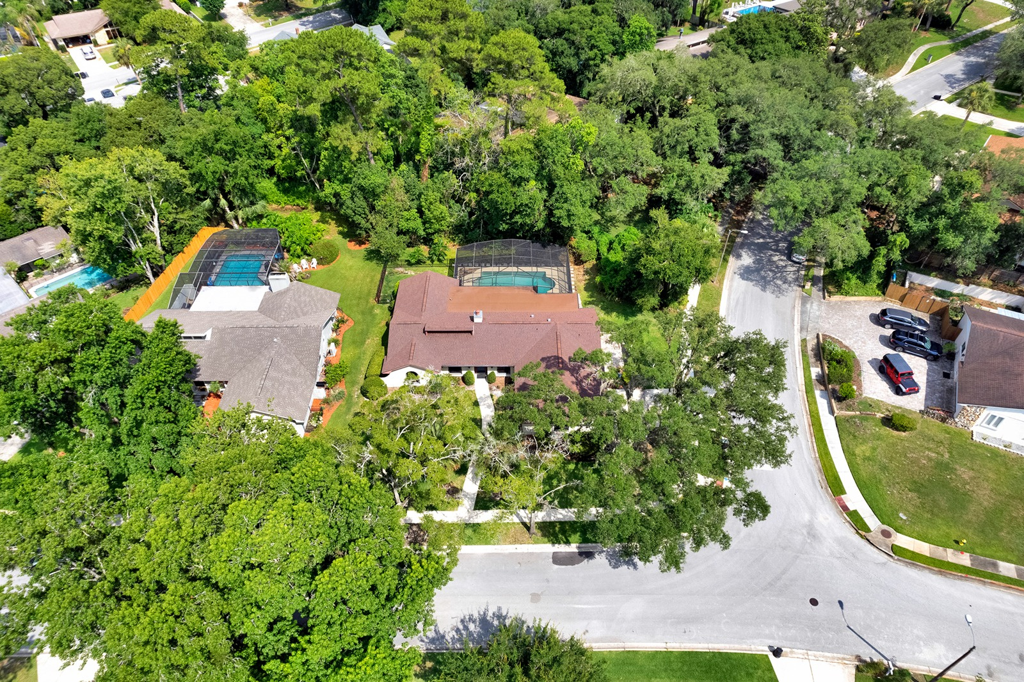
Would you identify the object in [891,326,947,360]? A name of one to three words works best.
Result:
car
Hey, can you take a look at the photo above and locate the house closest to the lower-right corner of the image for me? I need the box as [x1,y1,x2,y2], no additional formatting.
[953,284,1024,447]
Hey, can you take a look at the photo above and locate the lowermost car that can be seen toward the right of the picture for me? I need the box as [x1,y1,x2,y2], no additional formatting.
[880,352,925,397]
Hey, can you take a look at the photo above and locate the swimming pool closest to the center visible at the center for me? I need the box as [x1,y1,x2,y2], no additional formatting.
[470,270,560,292]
